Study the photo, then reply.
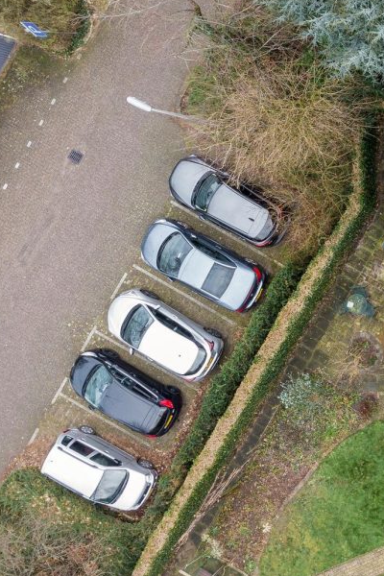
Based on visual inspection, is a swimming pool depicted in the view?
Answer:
No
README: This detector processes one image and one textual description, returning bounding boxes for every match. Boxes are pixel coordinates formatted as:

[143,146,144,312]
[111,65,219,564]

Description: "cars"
[169,152,293,247]
[141,215,273,314]
[111,287,231,384]
[72,344,191,440]
[27,425,165,514]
